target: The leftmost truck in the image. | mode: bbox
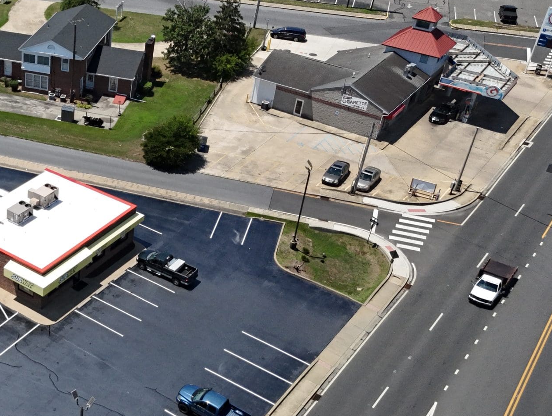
[135,251,206,291]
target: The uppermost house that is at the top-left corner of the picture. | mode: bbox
[0,3,154,101]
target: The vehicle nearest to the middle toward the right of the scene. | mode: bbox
[319,160,353,189]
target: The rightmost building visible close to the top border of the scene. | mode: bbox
[250,5,455,138]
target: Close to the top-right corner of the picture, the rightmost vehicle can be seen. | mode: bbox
[497,5,519,25]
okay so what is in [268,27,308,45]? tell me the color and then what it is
black car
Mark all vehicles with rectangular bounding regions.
[464,254,525,313]
[170,384,255,416]
[351,166,385,194]
[497,5,519,25]
[426,99,459,126]
[135,251,206,291]
[268,27,308,45]
[319,160,353,189]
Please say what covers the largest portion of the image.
paved ground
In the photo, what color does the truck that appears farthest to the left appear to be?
black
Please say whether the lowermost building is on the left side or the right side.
left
